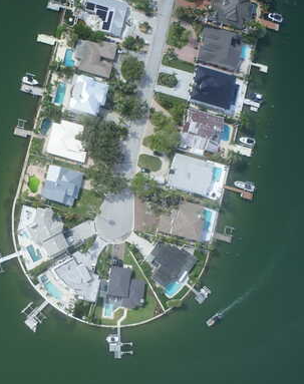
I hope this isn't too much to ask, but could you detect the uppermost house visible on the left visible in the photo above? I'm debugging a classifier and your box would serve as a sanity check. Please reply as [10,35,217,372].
[81,0,132,39]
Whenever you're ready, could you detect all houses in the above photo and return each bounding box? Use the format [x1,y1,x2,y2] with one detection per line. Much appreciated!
[54,252,99,301]
[165,153,214,195]
[188,65,239,111]
[67,73,110,116]
[178,107,223,152]
[196,27,242,72]
[75,39,118,78]
[105,267,146,308]
[47,120,88,163]
[164,200,205,242]
[41,165,84,207]
[81,0,132,39]
[150,241,197,285]
[21,208,69,257]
